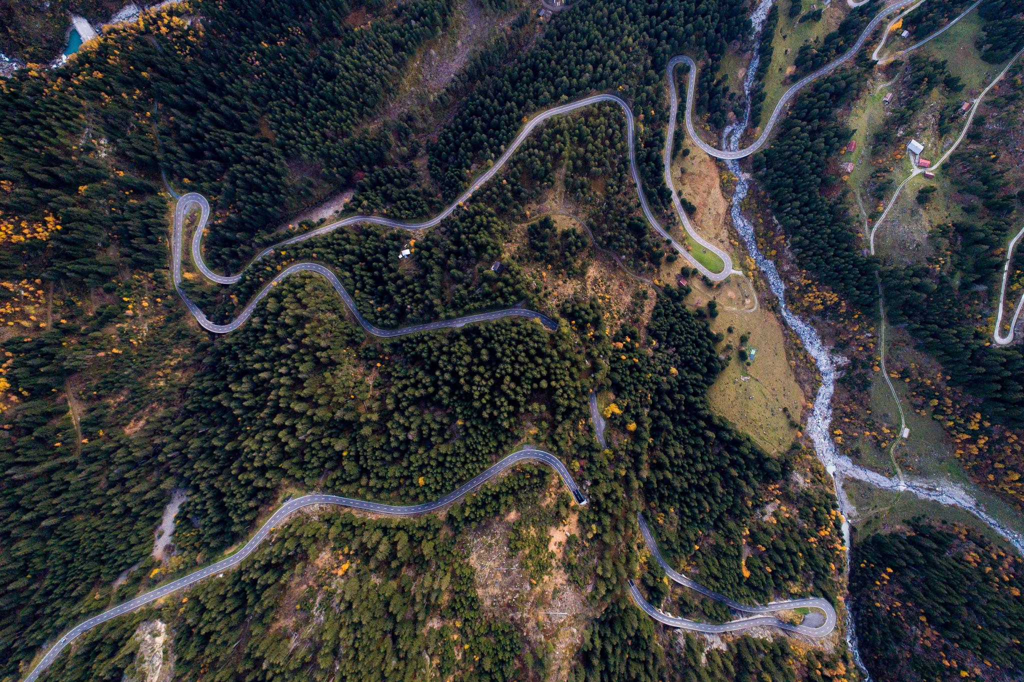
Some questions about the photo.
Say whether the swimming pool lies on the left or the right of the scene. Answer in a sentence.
You can find the swimming pool on the left side of the picture.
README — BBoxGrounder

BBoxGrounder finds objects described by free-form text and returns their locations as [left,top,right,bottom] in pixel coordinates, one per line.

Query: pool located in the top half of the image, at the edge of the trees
[63,28,83,55]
